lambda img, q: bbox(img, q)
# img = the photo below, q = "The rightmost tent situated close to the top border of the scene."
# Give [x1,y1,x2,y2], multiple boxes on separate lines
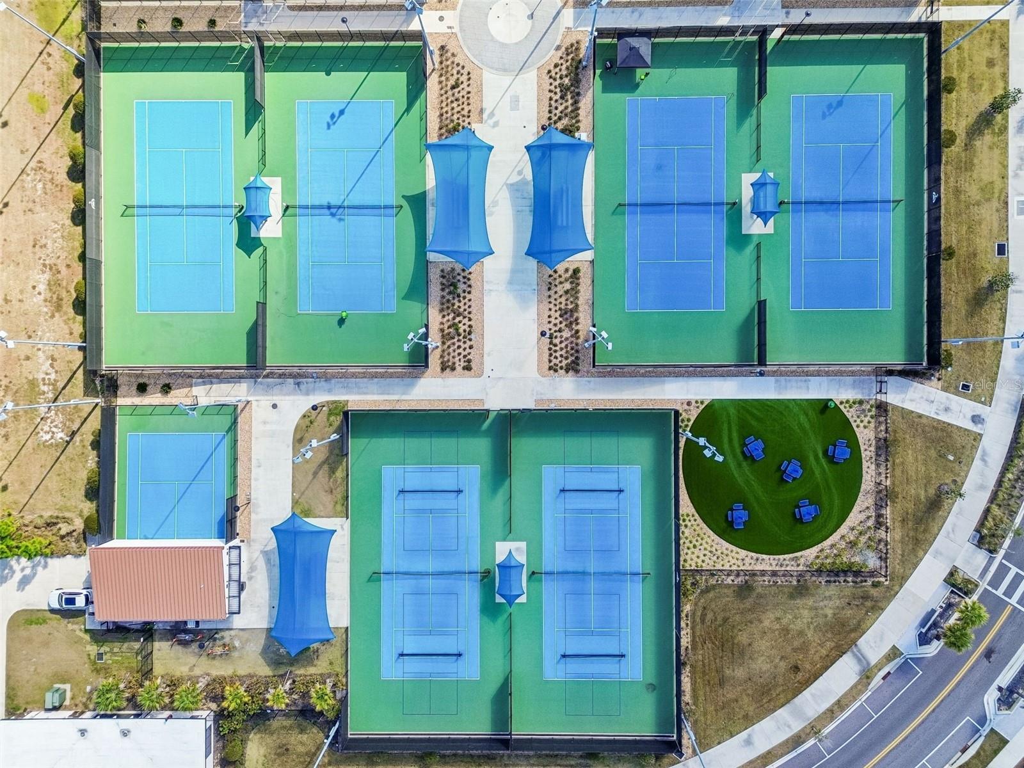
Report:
[615,35,651,77]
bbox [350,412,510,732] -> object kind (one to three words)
tennis court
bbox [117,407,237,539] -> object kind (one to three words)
tennis court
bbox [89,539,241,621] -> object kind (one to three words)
building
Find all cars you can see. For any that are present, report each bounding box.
[48,589,93,611]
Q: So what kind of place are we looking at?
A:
sports ground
